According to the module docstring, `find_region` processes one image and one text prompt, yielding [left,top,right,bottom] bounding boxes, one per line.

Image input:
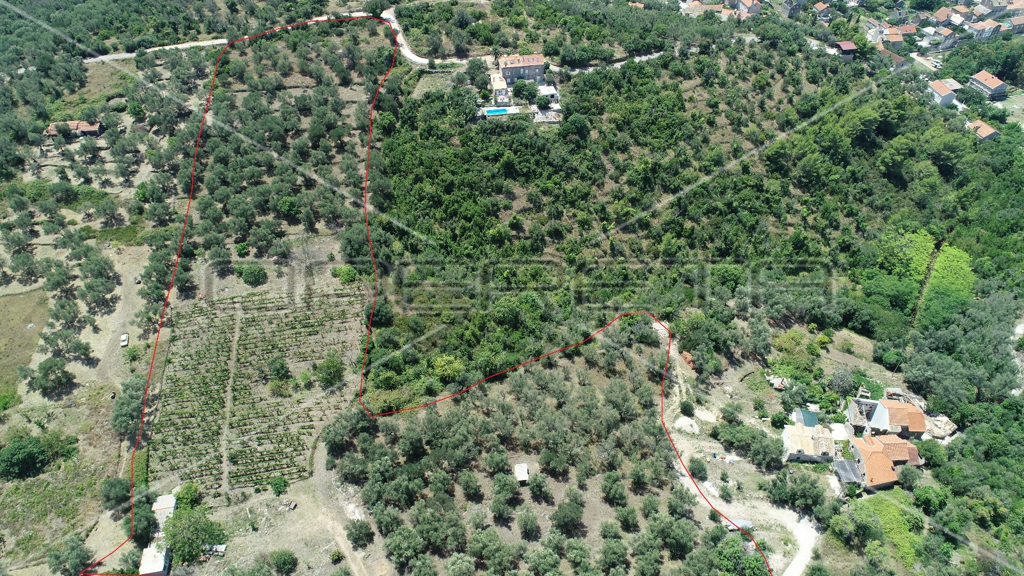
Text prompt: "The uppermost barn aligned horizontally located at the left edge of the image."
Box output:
[47,122,103,141]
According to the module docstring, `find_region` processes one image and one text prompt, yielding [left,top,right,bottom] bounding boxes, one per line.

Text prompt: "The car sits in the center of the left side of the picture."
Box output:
[117,331,129,347]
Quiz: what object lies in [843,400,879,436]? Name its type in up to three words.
house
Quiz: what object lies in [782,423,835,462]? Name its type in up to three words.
house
